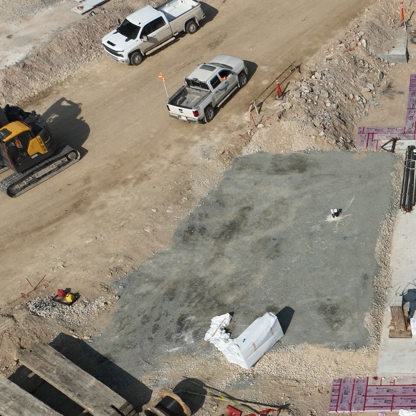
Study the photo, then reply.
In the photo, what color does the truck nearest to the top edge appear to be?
white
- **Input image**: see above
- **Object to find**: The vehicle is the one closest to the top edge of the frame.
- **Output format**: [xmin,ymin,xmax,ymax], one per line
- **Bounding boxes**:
[101,0,202,67]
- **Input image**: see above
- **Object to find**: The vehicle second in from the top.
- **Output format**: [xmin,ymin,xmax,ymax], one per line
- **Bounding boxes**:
[150,56,251,124]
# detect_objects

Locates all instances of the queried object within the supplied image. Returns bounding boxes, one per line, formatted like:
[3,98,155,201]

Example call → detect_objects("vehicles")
[0,121,79,197]
[150,56,251,124]
[101,0,202,67]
